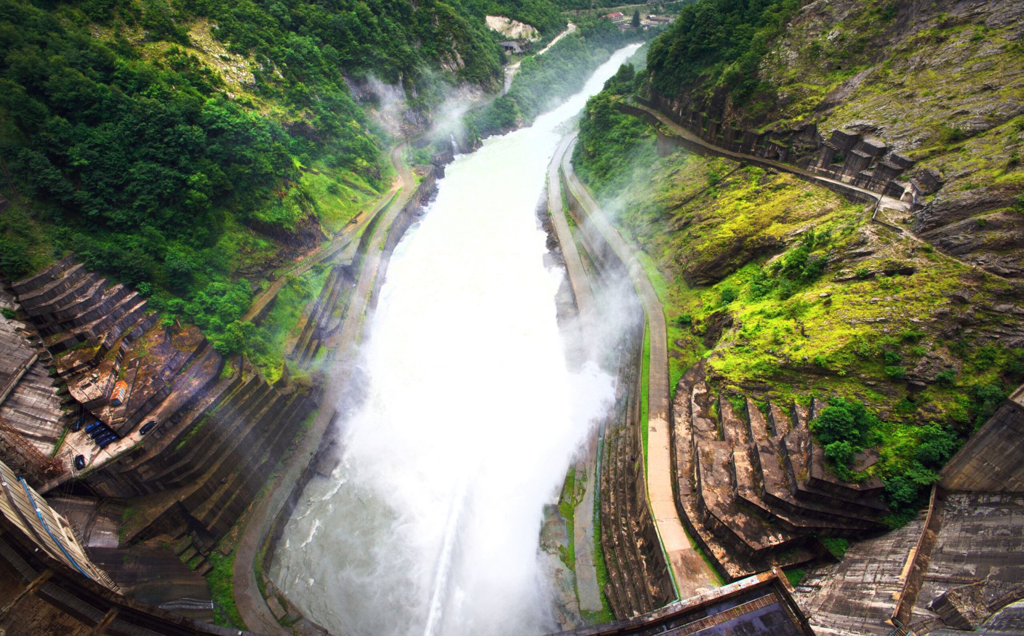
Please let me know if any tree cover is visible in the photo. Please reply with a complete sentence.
Yes, tree cover can be seen from above here.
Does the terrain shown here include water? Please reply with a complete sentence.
Yes, the picture does contain water.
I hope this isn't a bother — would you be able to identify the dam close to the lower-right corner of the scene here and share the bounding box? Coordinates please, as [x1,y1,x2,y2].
[788,486,1024,636]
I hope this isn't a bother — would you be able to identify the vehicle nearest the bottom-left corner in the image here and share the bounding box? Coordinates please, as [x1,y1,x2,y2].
[72,452,86,469]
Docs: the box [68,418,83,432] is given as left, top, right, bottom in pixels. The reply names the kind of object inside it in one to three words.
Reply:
car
